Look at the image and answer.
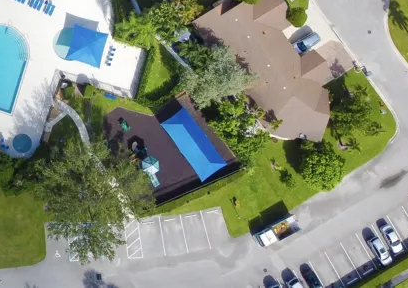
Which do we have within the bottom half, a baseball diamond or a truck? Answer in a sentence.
Visible within the bottom half is a truck.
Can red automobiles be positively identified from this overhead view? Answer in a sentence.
No, there appears to be no red automobile in this shot.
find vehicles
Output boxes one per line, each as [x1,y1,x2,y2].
[379,221,406,254]
[300,260,325,288]
[253,218,305,252]
[281,267,305,288]
[368,232,395,266]
[293,31,323,55]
